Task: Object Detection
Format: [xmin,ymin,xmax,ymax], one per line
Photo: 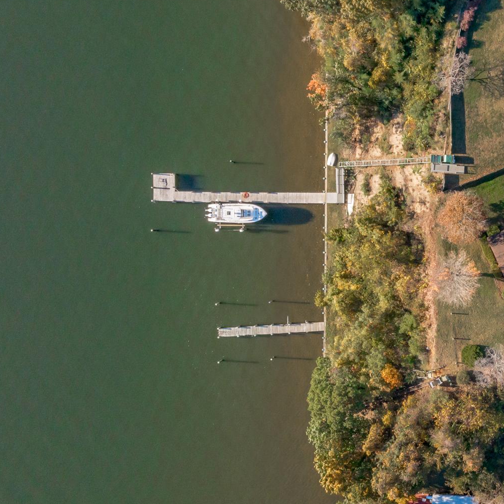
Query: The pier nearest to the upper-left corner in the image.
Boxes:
[151,167,345,204]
